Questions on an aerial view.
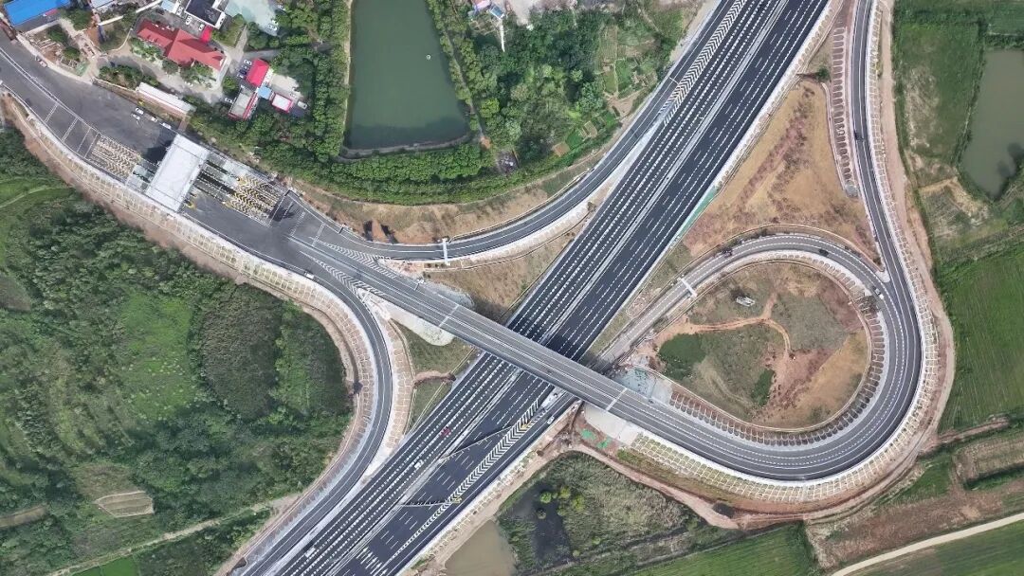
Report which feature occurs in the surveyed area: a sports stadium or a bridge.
bridge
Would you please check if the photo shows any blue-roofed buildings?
Yes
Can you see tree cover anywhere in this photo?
Yes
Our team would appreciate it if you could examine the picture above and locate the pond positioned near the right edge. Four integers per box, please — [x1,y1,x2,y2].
[959,49,1024,198]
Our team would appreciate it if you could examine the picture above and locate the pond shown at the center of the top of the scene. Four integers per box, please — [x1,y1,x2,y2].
[345,0,468,151]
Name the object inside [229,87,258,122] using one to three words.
building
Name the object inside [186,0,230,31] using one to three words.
building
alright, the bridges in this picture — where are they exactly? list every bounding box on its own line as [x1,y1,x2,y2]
[442,303,623,413]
